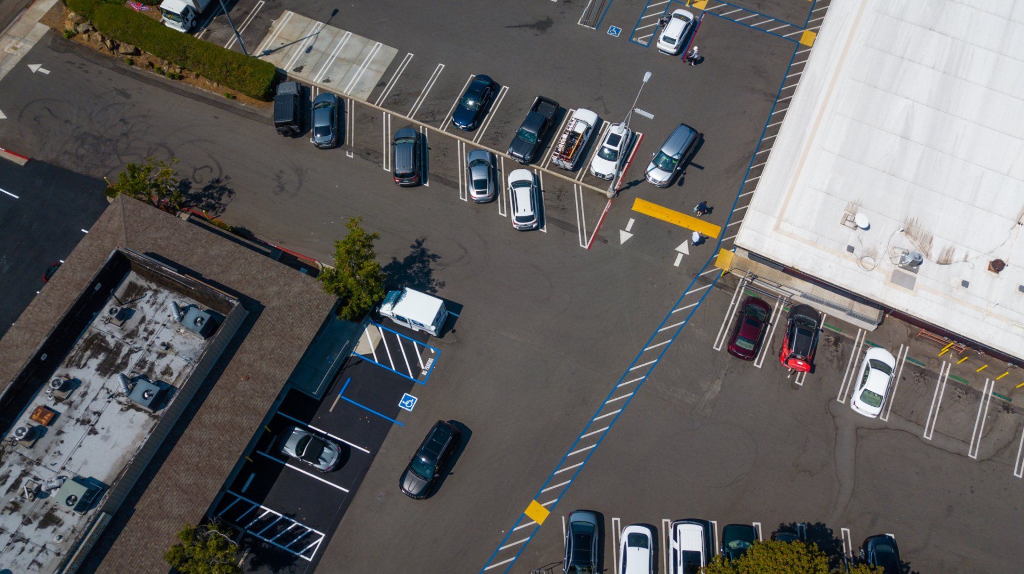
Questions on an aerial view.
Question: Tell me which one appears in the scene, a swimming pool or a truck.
truck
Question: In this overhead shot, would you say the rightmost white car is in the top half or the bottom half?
bottom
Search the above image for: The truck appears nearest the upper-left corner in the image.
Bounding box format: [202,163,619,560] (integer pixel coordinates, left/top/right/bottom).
[157,0,212,34]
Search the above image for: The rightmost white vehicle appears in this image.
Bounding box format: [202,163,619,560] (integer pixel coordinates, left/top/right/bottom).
[847,347,897,423]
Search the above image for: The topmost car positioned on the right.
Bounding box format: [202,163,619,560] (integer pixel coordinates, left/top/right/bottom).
[654,10,693,57]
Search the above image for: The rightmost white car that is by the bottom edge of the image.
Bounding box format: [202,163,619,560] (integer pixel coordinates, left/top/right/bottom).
[668,521,709,574]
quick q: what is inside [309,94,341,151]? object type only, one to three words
car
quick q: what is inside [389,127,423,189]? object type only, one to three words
car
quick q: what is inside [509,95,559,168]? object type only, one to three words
truck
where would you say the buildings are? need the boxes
[0,193,338,574]
[733,0,1024,369]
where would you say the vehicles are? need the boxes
[40,263,62,286]
[859,535,907,574]
[157,0,212,34]
[456,75,493,132]
[620,525,662,574]
[648,123,698,190]
[551,109,597,175]
[403,419,459,503]
[720,525,756,558]
[654,10,693,57]
[592,122,633,184]
[509,95,559,168]
[389,127,423,189]
[309,94,341,151]
[727,295,772,364]
[463,151,496,205]
[668,521,709,574]
[277,426,345,473]
[272,82,304,138]
[377,287,448,337]
[778,304,823,373]
[847,347,897,423]
[506,171,539,232]
[562,511,604,574]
